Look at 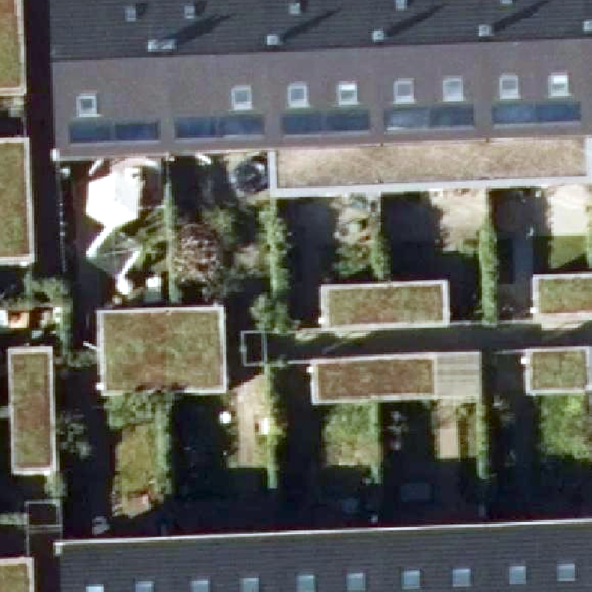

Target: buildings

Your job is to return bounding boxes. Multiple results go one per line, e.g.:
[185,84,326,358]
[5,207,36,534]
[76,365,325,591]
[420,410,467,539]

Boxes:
[97,306,227,393]
[529,274,592,320]
[0,558,34,592]
[54,519,592,592]
[0,0,26,95]
[48,0,592,197]
[307,357,437,404]
[0,137,34,265]
[318,282,449,328]
[520,347,592,394]
[8,346,55,474]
